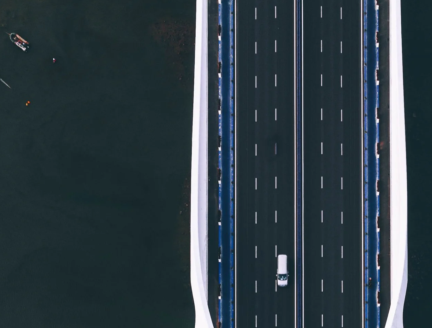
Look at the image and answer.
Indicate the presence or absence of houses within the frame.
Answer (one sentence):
No, there isn't any house down there.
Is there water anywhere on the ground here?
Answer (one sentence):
Yes, there's water in this view.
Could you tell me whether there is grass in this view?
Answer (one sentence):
No, grass can't be seen anywhere here.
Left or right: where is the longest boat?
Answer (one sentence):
You can find the longest boat on the left side of the picture.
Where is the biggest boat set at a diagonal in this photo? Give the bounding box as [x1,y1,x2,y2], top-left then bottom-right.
[9,31,30,55]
